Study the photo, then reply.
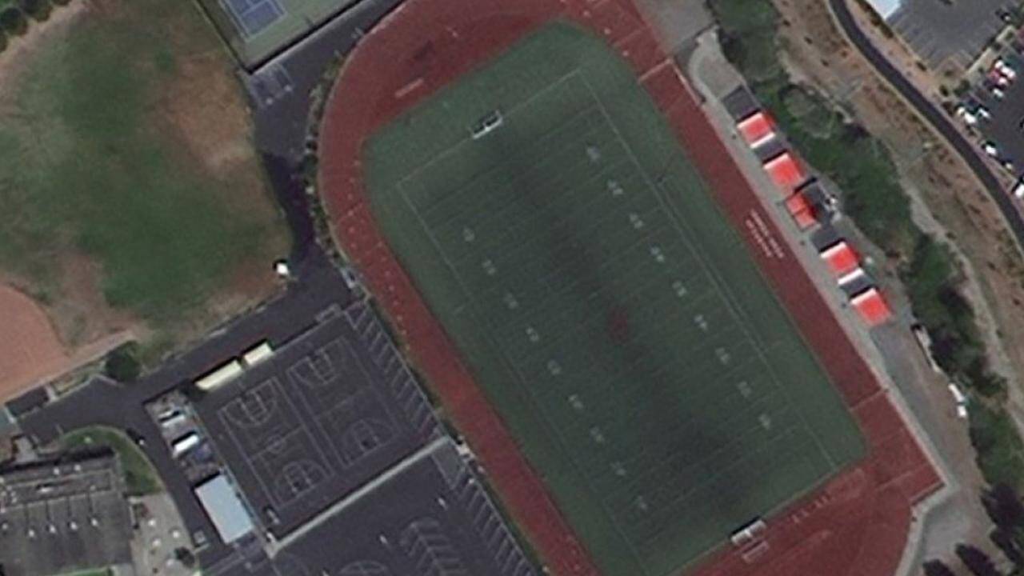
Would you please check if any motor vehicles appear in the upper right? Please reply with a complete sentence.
Yes, a motor vehicle appears in the upper right.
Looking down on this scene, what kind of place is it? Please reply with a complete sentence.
This image shows a sports ground.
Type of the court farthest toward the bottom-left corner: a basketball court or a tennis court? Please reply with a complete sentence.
I'd say the court farthest toward the bottom-left corner is a basketball court.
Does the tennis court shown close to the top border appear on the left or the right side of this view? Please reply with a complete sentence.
The tennis court shown close to the top border sits on the left side.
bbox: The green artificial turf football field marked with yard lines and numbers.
[359,18,869,576]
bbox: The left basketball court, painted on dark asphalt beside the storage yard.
[220,379,333,508]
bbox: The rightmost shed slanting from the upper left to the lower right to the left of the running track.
[195,474,254,546]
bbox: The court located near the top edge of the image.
[204,0,370,69]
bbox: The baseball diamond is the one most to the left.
[0,0,288,405]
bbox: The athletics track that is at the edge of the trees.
[318,0,944,576]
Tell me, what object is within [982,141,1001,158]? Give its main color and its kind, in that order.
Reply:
white car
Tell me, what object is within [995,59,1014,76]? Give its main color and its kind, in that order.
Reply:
white car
